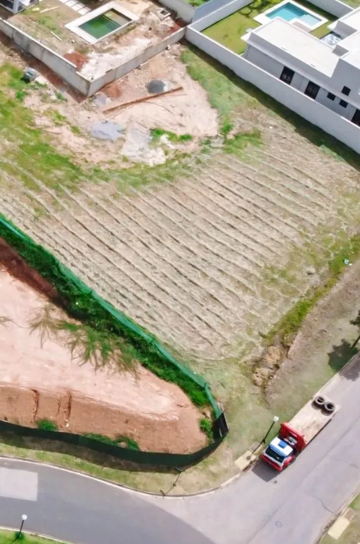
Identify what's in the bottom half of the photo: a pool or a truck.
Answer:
truck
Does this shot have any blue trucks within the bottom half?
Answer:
No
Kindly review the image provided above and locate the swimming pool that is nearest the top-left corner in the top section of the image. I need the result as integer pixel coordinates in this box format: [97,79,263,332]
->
[65,1,137,43]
